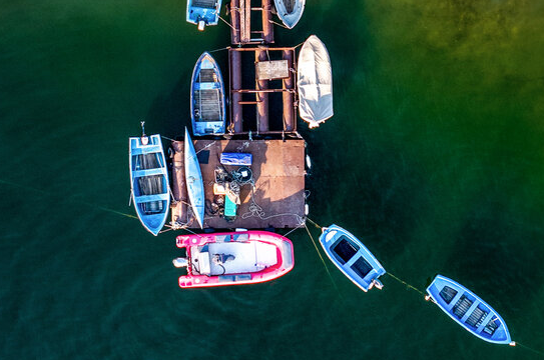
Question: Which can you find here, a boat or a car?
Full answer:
Visible in the photo is a boat.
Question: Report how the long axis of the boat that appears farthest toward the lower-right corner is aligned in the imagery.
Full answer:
The boat that appears farthest toward the lower-right corner is oriented on a diagonal.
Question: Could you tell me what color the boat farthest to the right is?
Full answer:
The boat farthest to the right looks blue in the image.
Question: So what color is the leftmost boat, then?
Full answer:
The leftmost boat is blue.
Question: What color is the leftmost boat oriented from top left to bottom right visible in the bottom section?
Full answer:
The color of the leftmost boat oriented from top left to bottom right visible in the bottom section is blue.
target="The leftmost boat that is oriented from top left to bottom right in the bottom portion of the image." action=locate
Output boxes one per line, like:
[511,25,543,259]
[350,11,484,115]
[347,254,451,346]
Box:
[321,226,387,292]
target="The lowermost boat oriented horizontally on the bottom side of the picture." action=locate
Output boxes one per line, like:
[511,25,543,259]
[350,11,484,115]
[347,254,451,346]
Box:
[175,231,294,290]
